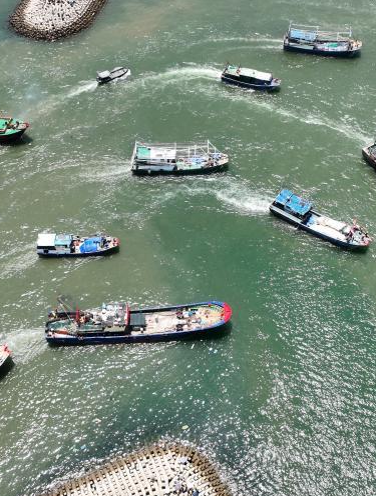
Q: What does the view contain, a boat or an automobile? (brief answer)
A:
boat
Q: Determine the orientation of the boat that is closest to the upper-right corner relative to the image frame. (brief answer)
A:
horizontally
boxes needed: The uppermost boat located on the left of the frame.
[96,68,130,83]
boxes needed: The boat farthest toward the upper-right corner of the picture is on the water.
[283,25,361,55]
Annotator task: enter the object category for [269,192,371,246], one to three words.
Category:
boat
